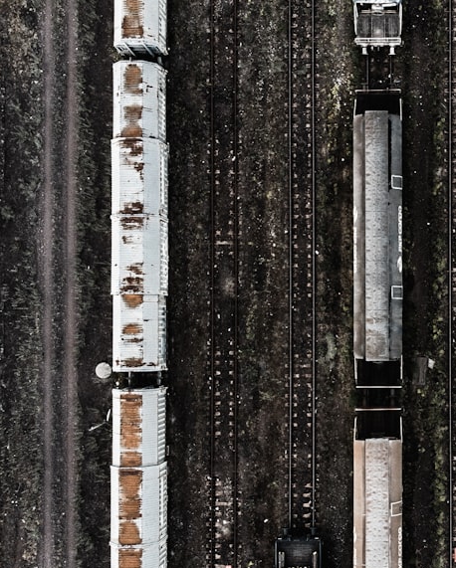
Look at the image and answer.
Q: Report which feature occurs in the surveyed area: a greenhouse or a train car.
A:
train car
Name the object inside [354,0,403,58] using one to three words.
rail car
